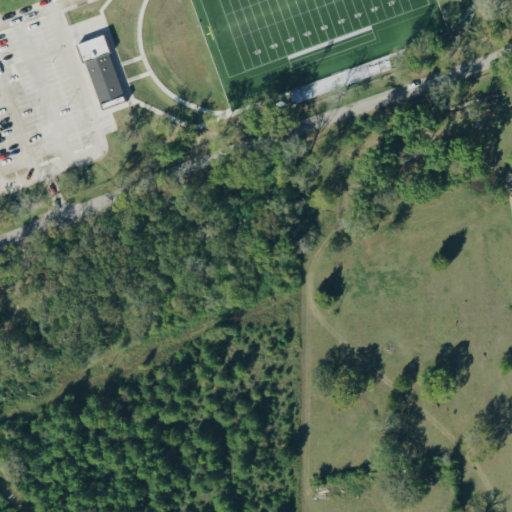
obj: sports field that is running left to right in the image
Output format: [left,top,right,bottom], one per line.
[192,0,450,108]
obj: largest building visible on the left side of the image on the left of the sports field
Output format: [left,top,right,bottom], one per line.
[76,34,126,108]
